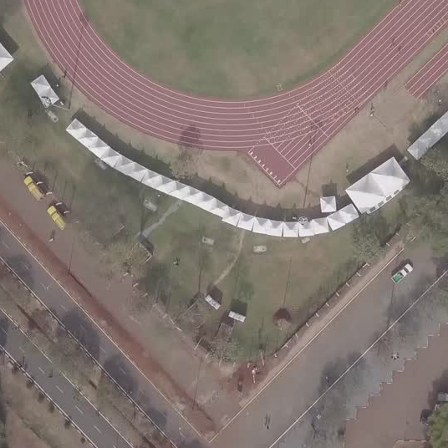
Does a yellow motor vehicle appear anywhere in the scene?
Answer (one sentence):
Yes, a yellow motor vehicle appears in the view.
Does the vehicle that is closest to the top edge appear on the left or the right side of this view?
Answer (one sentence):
It is on the left.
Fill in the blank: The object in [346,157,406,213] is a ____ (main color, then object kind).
white tent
